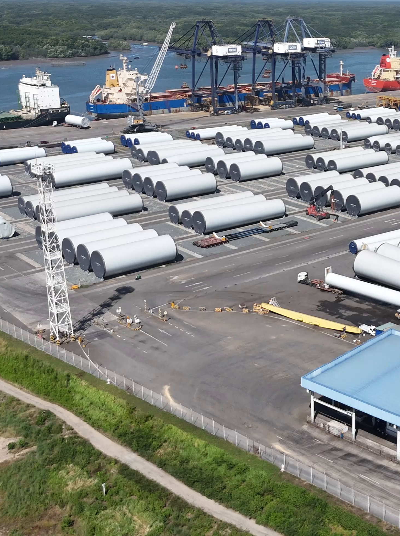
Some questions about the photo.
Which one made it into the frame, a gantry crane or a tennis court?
gantry crane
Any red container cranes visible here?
No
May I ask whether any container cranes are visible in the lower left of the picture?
No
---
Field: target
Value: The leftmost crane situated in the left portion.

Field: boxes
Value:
[123,22,174,131]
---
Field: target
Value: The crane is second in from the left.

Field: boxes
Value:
[155,15,252,115]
